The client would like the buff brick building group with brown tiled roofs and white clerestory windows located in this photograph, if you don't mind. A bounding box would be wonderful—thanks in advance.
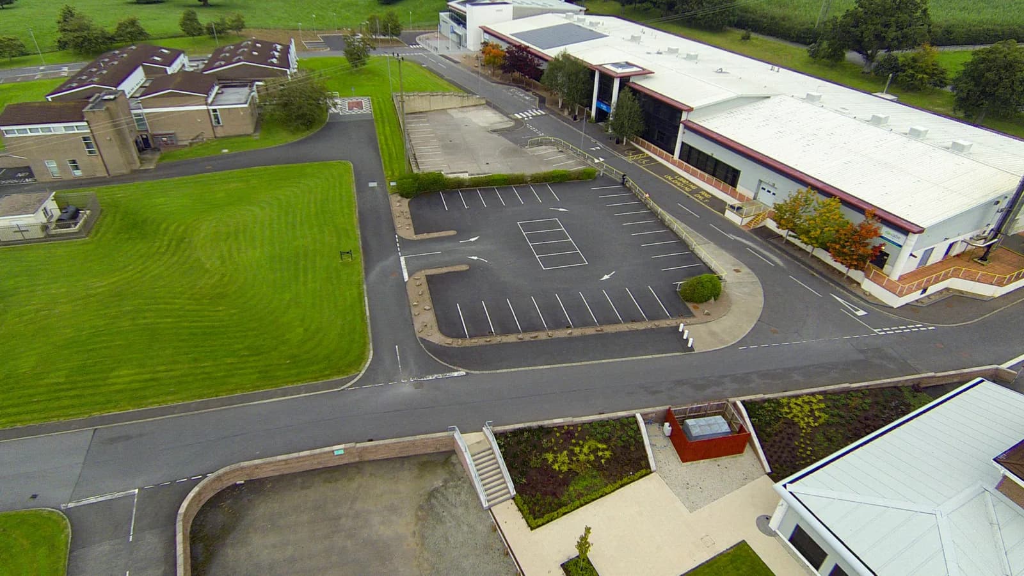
[0,39,291,179]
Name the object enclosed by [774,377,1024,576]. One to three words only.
building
